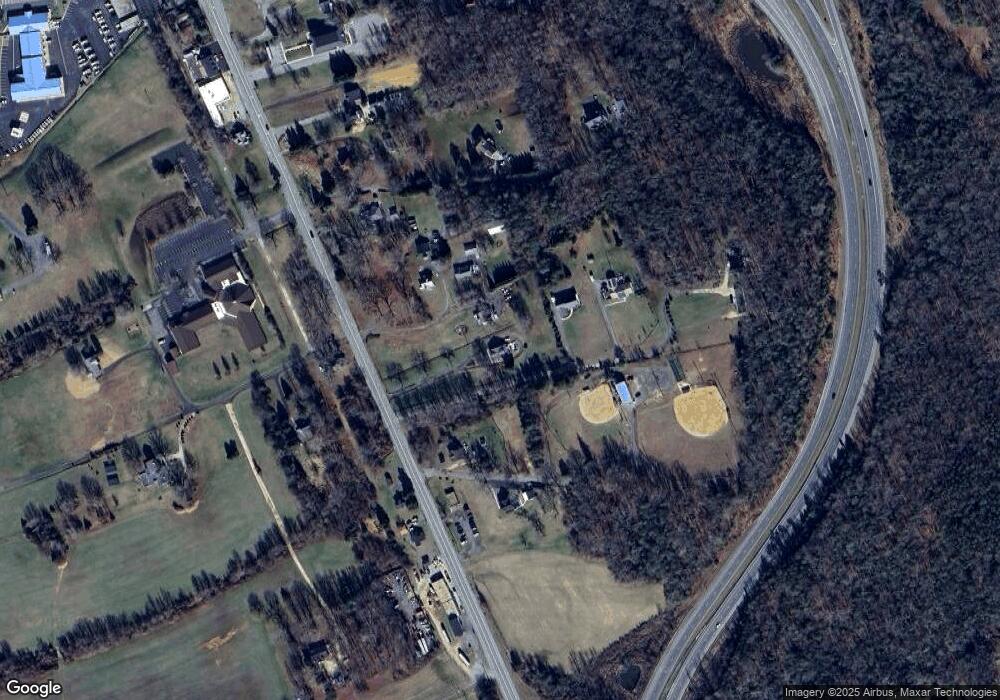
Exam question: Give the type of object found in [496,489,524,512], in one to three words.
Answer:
house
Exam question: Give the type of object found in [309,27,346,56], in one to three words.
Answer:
building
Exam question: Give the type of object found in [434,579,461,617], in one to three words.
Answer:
building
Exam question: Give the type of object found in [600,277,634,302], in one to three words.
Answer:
house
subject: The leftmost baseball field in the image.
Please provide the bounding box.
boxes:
[546,382,628,452]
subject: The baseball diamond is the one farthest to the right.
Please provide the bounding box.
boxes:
[634,384,737,473]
